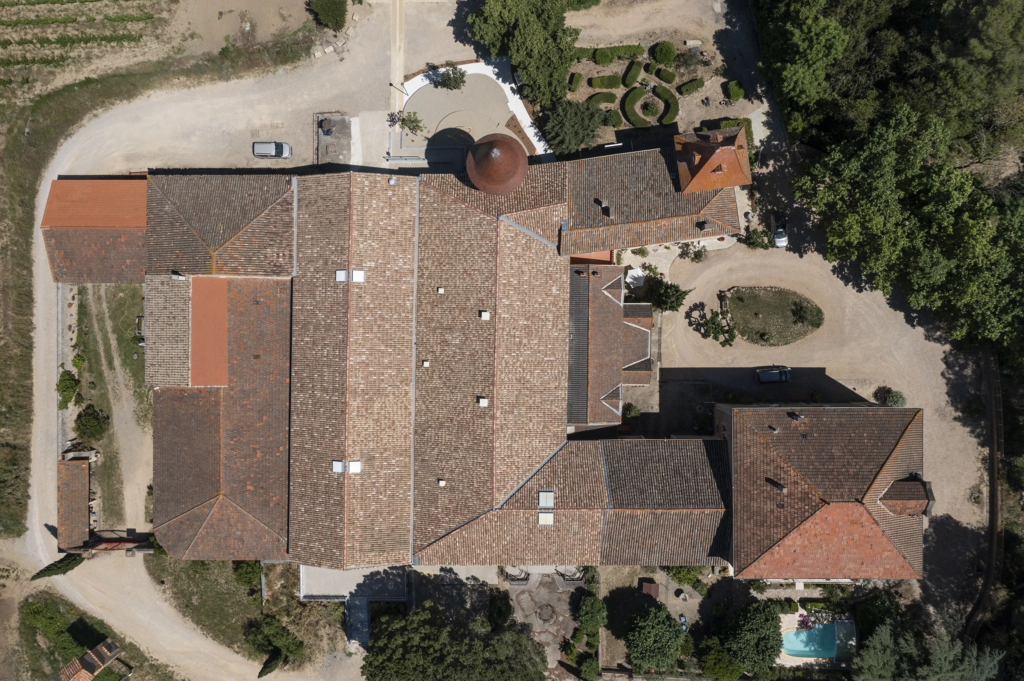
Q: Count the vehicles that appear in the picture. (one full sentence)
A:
The count of vehicles comes to 3.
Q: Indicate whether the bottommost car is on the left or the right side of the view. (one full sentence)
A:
The bottommost car sits on the right side.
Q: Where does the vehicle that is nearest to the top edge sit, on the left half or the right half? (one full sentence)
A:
You can find the vehicle that is nearest to the top edge on the left side of the picture.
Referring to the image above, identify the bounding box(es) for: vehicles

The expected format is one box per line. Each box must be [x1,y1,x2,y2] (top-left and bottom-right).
[770,210,792,250]
[754,365,792,385]
[250,138,293,159]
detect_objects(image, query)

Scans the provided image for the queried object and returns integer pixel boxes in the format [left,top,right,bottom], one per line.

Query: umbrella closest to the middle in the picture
[625,268,646,287]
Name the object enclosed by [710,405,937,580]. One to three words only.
house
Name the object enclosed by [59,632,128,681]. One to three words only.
shed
